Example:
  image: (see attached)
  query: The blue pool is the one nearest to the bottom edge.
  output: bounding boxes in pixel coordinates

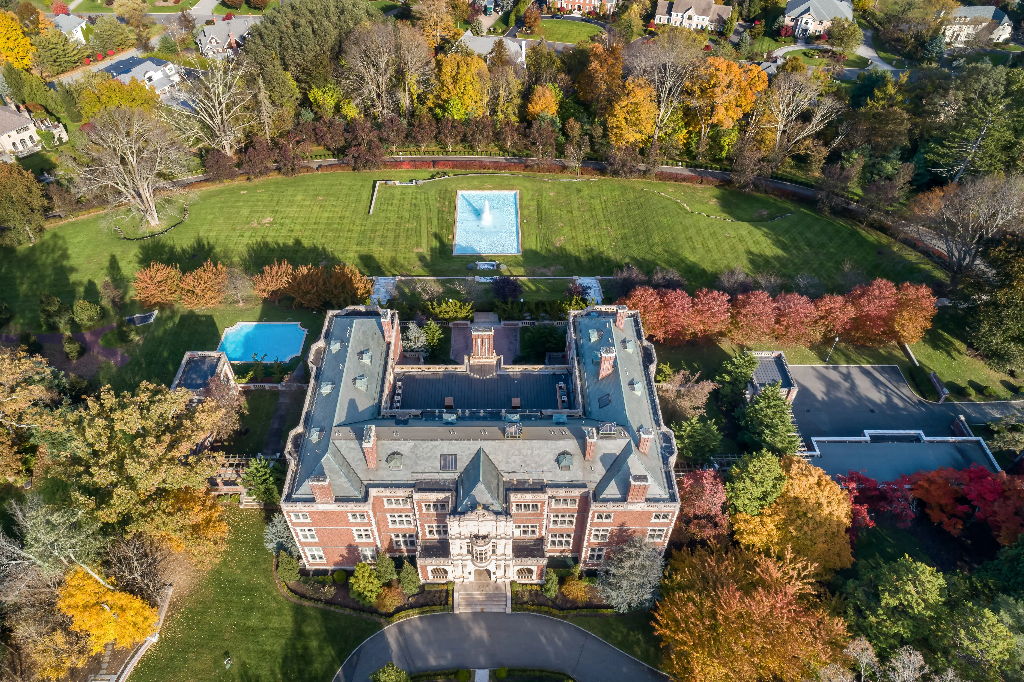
[216,322,308,363]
